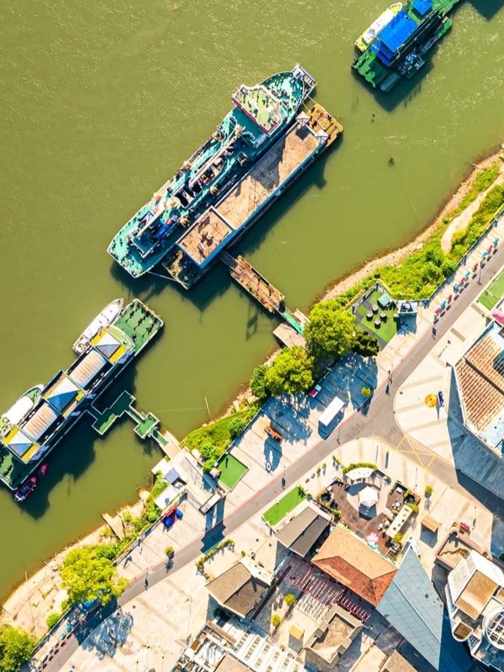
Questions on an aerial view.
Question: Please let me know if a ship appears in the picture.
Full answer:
Yes, you can see a ship in this photo.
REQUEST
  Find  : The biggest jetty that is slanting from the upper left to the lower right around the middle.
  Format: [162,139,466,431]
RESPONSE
[231,256,286,313]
